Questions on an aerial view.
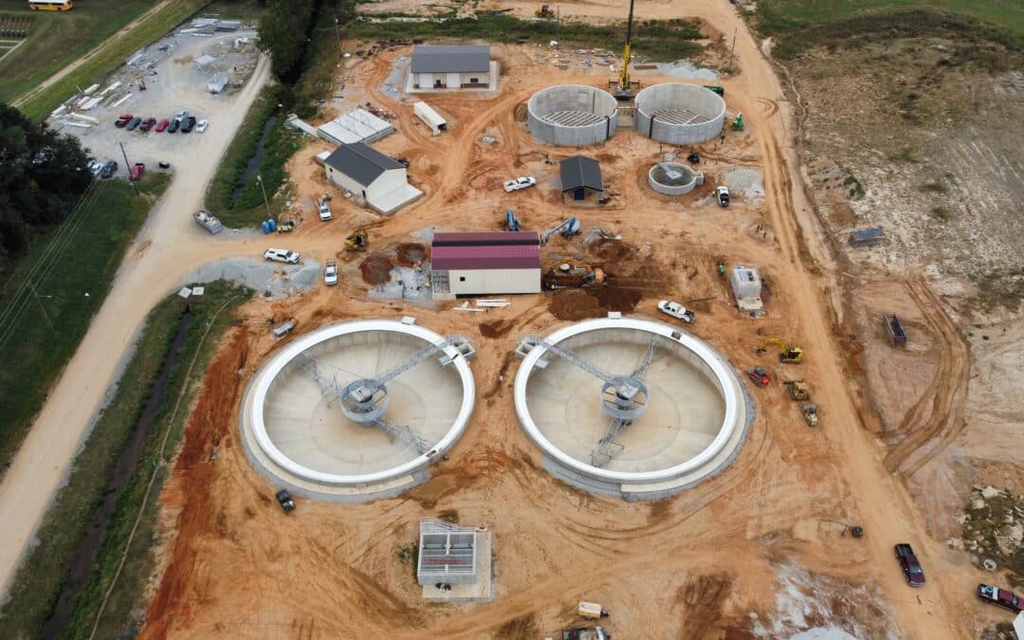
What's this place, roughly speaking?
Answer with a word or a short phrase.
industrial area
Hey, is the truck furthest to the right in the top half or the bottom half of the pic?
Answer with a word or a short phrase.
bottom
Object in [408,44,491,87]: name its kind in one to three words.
building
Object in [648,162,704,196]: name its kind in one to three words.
storage tank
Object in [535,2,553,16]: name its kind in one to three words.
work vehicle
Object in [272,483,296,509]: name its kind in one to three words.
vehicle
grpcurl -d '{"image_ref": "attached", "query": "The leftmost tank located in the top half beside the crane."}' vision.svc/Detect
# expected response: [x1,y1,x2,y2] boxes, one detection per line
[528,84,617,146]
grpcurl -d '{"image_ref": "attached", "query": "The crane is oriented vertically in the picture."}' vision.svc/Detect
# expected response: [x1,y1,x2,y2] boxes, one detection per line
[604,0,639,107]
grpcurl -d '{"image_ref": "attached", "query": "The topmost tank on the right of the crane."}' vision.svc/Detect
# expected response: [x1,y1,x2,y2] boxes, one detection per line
[633,83,726,145]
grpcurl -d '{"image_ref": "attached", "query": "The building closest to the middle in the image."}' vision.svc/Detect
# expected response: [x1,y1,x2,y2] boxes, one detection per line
[429,231,545,300]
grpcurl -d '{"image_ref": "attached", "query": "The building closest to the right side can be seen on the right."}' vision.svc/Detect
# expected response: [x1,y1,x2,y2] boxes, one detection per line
[731,262,761,300]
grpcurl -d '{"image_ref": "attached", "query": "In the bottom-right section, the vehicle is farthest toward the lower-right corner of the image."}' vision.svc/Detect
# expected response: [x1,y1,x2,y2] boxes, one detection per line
[971,578,1024,614]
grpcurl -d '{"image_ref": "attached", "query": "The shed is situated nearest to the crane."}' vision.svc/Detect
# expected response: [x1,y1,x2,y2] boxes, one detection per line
[560,153,604,209]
